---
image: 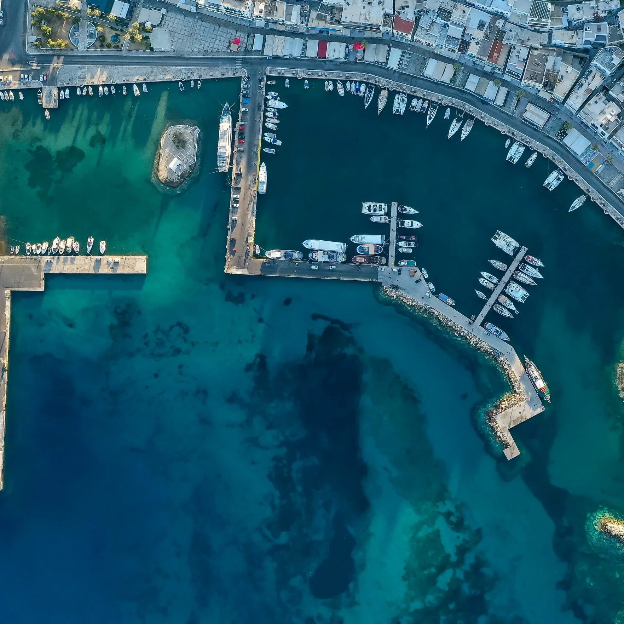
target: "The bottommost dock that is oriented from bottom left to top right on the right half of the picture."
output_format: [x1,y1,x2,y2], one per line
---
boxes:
[474,247,528,325]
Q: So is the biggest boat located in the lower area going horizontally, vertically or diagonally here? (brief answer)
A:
diagonally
